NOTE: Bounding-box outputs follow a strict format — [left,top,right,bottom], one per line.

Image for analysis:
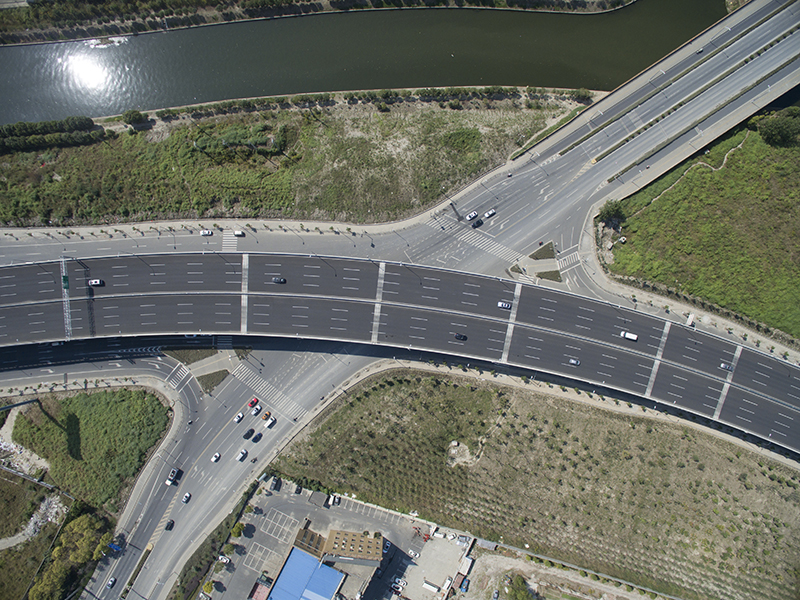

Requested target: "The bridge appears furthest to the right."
[520,0,800,211]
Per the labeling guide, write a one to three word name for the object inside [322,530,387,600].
building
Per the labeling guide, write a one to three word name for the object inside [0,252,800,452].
overpass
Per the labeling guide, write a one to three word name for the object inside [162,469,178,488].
vehicle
